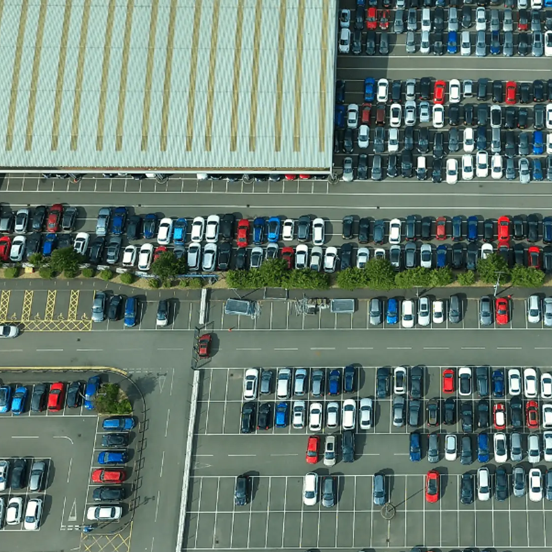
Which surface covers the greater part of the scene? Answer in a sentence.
The scene is dominated by paved ground.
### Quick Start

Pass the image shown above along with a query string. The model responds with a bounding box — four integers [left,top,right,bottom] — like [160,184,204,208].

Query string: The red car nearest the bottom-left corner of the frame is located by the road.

[91,469,128,484]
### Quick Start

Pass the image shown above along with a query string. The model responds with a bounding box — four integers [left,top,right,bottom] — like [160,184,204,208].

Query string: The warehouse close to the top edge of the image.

[0,0,341,181]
